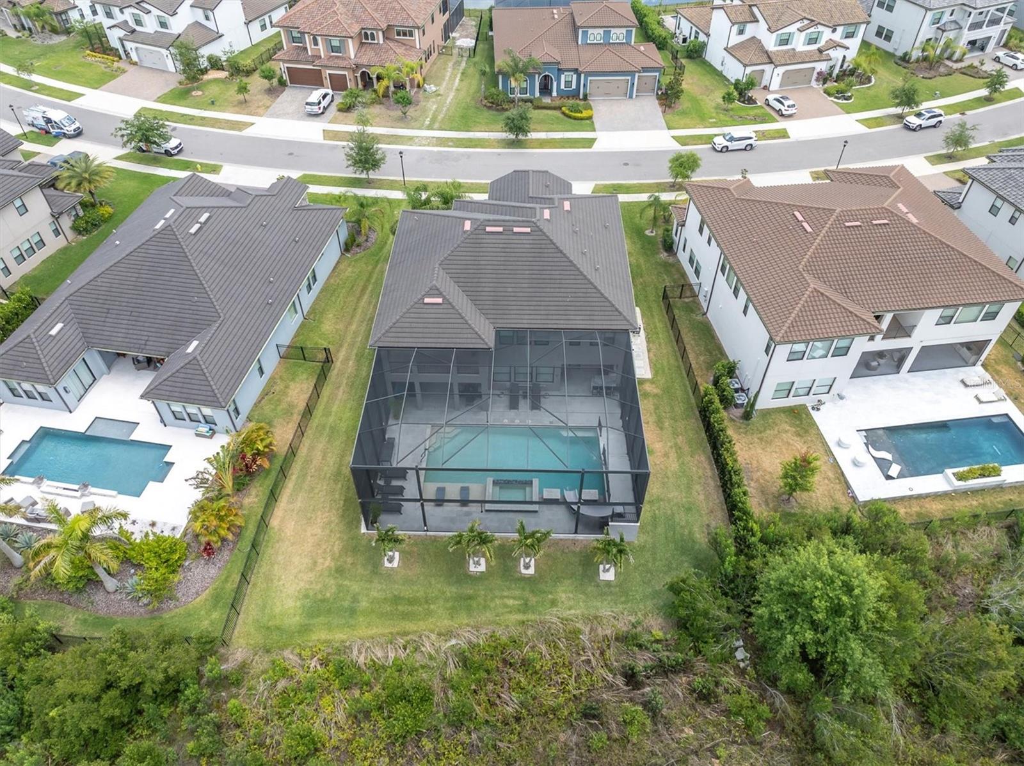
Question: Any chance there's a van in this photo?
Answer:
Yes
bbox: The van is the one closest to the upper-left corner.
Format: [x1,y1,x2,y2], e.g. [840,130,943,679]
[22,100,80,138]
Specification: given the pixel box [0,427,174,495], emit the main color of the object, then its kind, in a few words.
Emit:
blue swimming pool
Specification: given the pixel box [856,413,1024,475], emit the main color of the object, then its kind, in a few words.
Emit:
blue swimming pool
